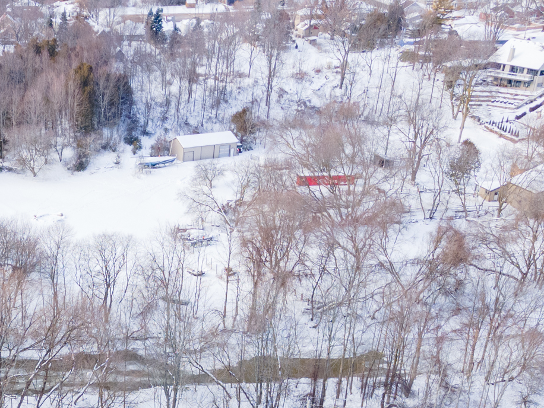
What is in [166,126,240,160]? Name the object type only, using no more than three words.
building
